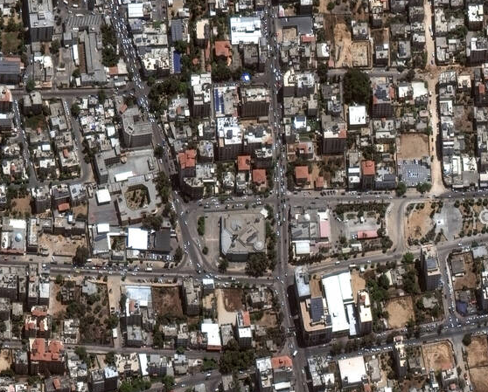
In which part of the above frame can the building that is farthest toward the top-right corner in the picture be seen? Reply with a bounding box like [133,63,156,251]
[467,4,482,29]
